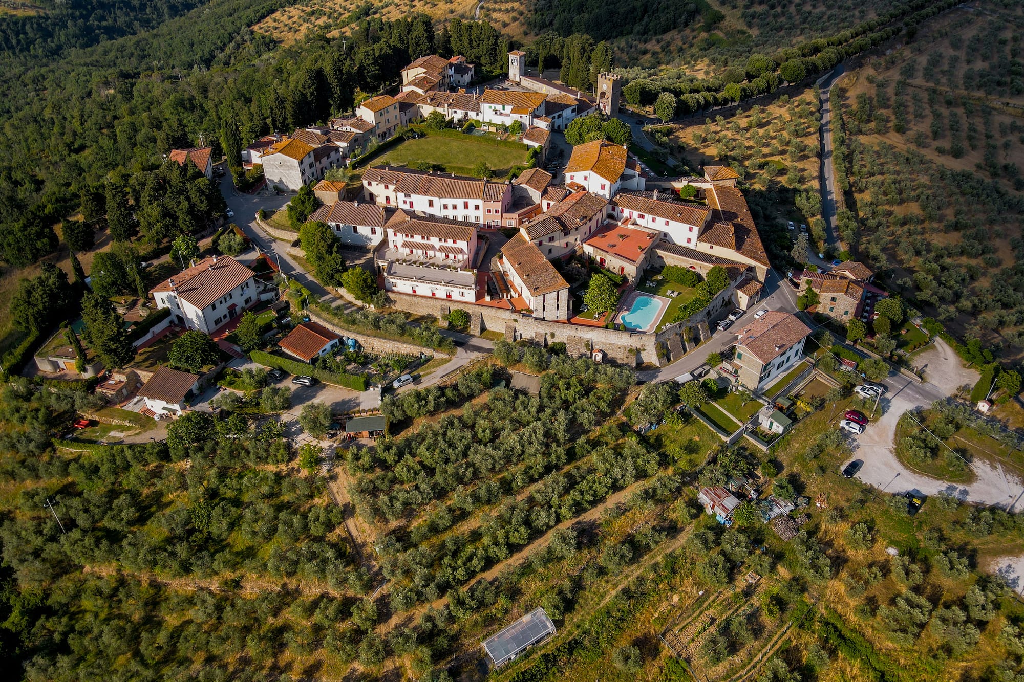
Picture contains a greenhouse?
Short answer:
Yes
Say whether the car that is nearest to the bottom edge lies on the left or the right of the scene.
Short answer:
right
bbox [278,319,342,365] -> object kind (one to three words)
house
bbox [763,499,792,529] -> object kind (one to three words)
shed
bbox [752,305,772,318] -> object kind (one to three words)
vehicle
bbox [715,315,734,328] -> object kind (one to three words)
vehicle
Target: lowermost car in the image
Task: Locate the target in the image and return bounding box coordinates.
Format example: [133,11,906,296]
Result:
[842,453,867,477]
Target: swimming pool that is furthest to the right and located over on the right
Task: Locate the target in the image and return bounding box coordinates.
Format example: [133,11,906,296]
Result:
[613,290,672,331]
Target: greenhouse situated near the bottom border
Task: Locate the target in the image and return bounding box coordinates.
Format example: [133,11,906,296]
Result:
[483,613,561,676]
